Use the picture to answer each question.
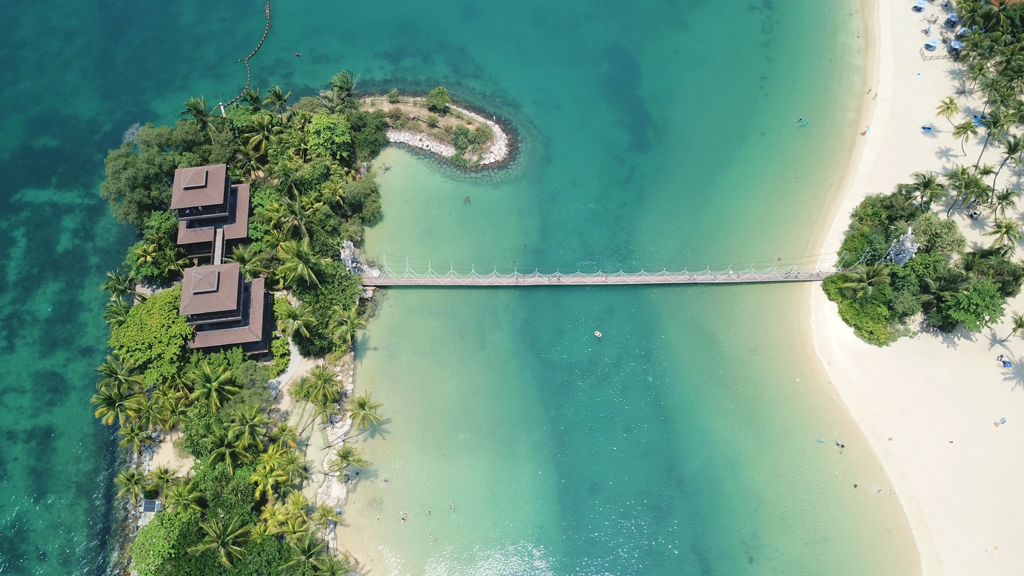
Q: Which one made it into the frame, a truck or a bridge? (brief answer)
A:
bridge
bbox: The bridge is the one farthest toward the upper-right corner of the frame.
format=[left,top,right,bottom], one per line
[344,243,906,287]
